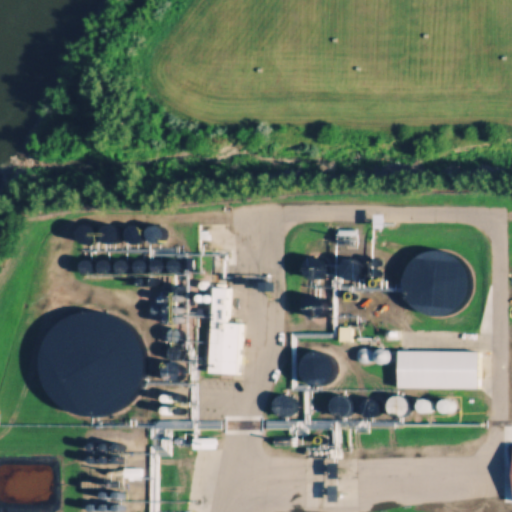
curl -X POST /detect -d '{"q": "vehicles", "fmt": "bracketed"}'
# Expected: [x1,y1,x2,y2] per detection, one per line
[272,370,280,382]
[279,332,284,345]
[360,297,372,309]
[458,334,476,340]
[234,382,244,392]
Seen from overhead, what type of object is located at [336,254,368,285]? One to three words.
storage tank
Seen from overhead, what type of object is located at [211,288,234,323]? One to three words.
building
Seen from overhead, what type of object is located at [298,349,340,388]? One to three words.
storage tank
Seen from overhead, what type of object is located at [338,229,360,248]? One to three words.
house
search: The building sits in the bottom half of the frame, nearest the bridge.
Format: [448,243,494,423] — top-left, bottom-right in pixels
[208,323,246,374]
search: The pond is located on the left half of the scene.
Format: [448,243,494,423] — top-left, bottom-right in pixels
[0,456,62,512]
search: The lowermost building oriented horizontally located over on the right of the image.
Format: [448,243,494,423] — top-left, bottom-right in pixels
[396,351,481,389]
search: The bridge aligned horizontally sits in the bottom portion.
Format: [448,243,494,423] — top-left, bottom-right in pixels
[226,416,263,434]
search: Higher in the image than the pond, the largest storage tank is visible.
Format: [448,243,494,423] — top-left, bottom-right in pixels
[39,308,150,420]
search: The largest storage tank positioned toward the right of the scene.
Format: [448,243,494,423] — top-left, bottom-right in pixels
[401,246,476,321]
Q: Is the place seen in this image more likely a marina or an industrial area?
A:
industrial area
